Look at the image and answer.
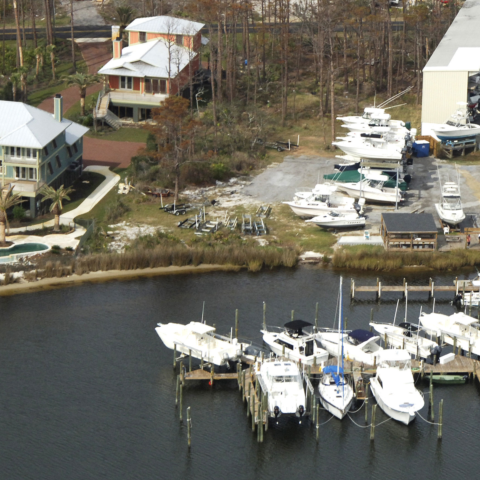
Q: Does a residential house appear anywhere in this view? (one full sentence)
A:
Yes, this view includes a residential house.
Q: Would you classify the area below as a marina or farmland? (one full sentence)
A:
What you see here is a marina.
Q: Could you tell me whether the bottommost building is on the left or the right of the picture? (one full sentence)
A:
The bottommost building is on the right side of the image.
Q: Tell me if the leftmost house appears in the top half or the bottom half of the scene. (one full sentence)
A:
The leftmost house is in the top half of the image.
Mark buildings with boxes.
[384,211,438,253]
[83,13,214,130]
[0,88,97,223]
[421,0,480,135]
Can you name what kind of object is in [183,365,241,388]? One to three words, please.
pier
